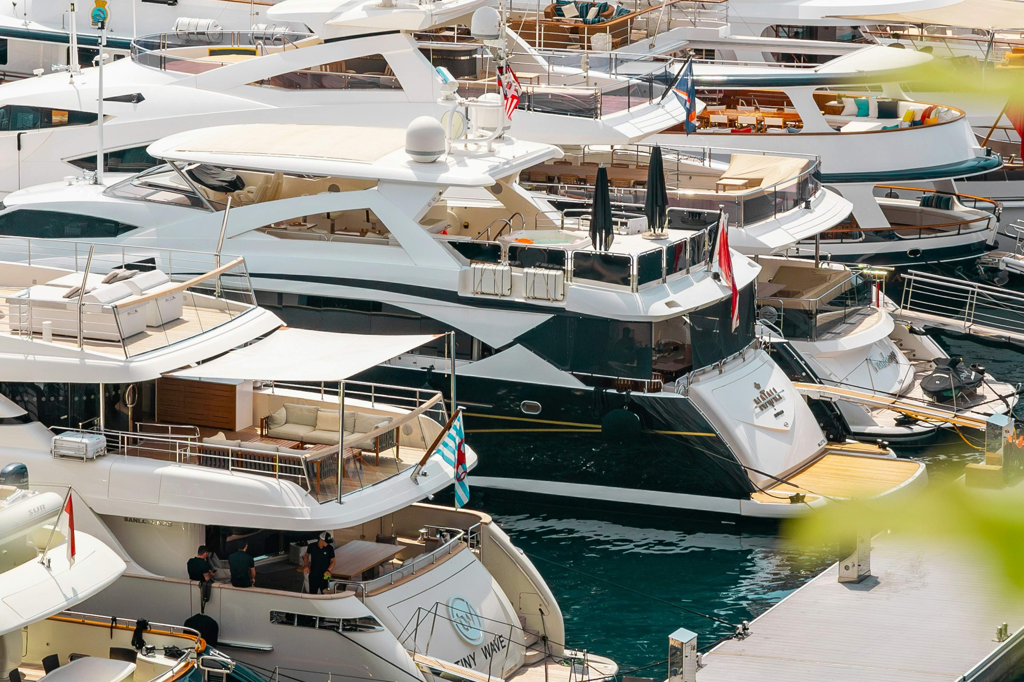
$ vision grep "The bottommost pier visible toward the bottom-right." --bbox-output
[696,408,1024,682]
